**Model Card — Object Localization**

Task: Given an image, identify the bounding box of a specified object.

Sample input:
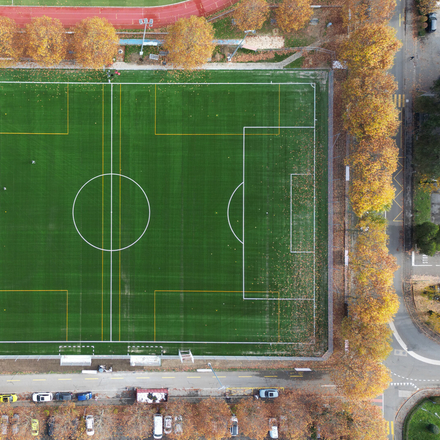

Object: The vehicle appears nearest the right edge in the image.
[424,13,438,34]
